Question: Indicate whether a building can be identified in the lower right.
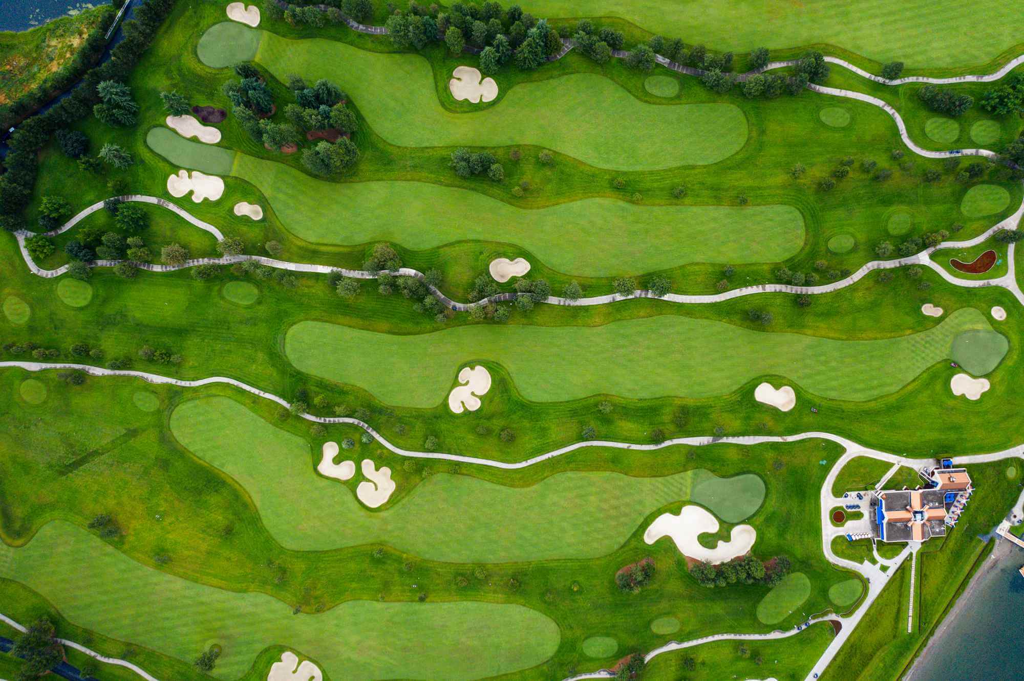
Yes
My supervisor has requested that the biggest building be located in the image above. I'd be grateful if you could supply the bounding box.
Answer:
[871,466,973,543]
